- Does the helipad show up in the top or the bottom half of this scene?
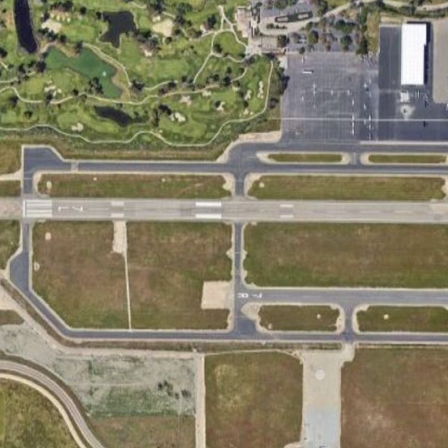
bottom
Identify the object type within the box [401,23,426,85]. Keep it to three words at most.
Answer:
hangar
